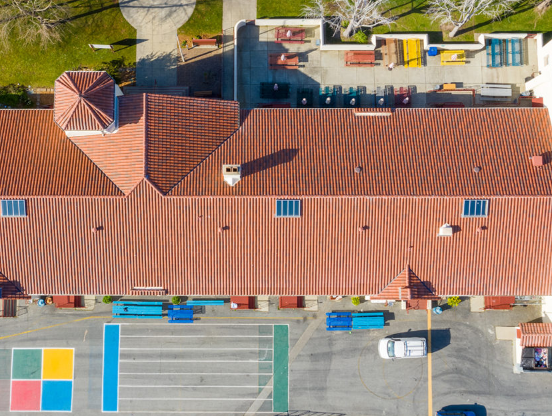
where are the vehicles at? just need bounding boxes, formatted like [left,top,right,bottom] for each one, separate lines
[434,409,476,416]
[378,337,429,360]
